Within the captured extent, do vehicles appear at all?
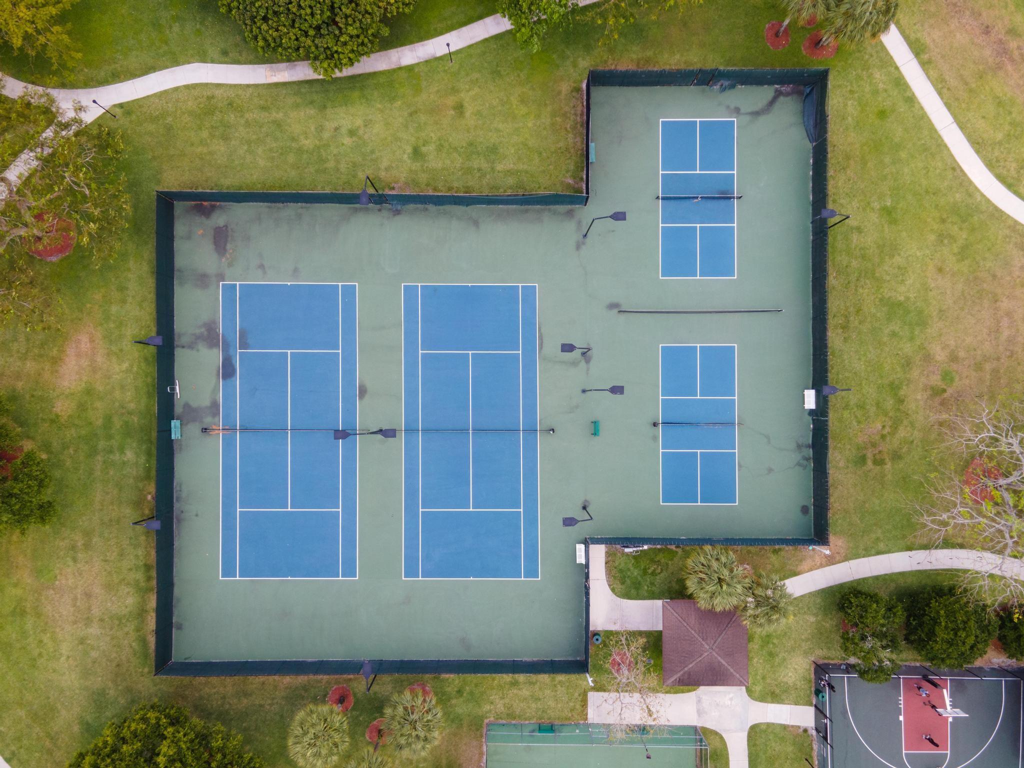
No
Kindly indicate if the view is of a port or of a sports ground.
sports ground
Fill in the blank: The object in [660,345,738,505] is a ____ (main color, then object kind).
blue sports court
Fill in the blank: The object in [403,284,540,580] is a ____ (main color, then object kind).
blue tennis court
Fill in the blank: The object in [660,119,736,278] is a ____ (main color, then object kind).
blue sports court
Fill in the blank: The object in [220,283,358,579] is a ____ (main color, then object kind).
blue tennis court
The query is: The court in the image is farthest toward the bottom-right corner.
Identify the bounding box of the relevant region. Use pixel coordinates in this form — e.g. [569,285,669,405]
[814,663,1024,768]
